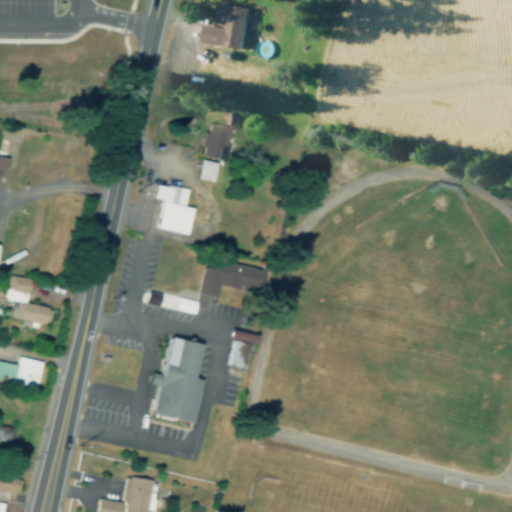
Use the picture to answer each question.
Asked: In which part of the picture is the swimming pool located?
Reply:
top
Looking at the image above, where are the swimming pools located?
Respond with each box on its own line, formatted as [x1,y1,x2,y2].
[258,36,277,59]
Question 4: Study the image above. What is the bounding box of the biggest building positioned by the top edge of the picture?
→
[199,8,248,49]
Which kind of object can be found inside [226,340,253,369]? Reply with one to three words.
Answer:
shed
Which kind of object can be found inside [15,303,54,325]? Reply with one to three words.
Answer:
house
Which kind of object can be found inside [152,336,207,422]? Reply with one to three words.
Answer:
building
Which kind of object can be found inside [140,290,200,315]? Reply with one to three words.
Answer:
shed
